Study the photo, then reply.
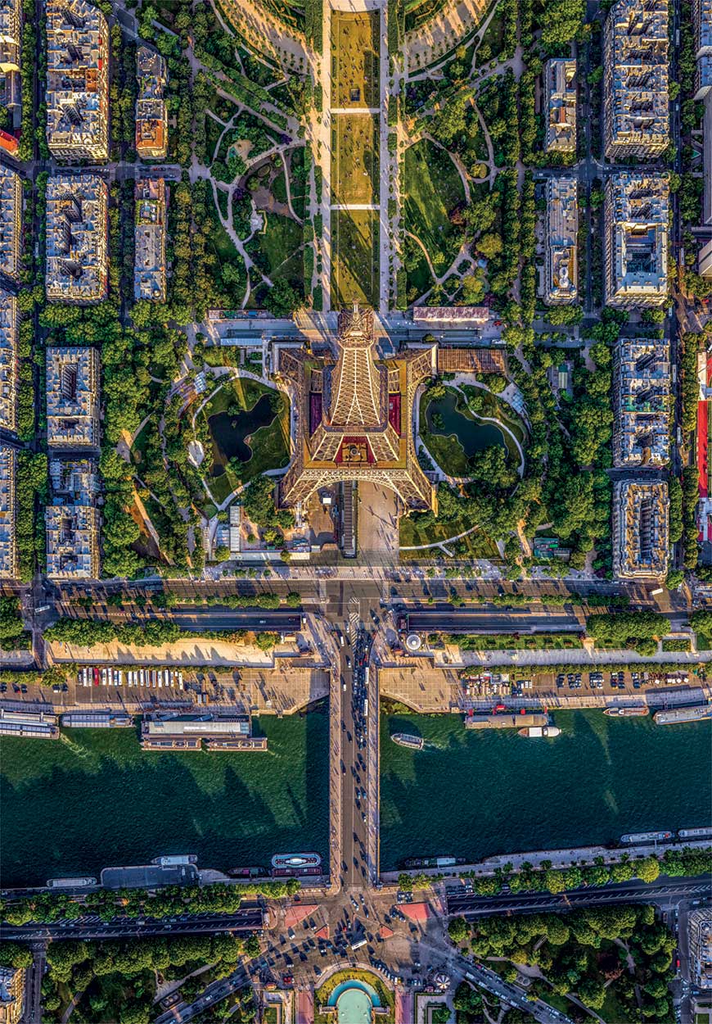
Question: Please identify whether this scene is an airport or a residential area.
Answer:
residential area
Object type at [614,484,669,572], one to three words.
house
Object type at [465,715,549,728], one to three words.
ship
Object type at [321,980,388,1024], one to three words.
fountain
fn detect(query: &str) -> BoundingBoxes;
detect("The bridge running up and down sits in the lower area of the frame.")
[328,664,381,891]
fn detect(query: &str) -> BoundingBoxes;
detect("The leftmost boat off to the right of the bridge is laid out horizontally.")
[391,733,424,751]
